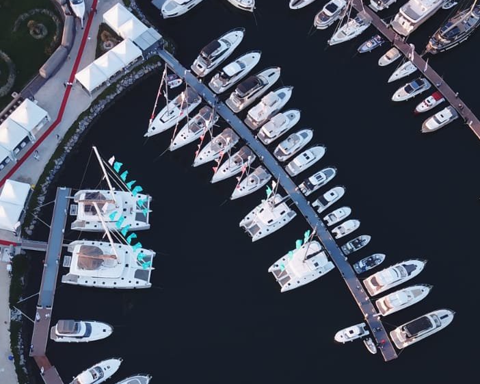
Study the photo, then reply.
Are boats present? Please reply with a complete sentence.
Yes, you can see a boat in this photo.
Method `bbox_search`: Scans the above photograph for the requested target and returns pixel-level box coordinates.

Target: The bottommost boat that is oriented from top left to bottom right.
[363,337,376,353]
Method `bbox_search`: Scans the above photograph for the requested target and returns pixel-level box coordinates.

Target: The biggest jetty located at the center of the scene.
[183,72,398,363]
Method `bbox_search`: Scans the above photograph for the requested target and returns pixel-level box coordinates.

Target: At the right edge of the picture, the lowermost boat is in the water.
[385,309,460,350]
